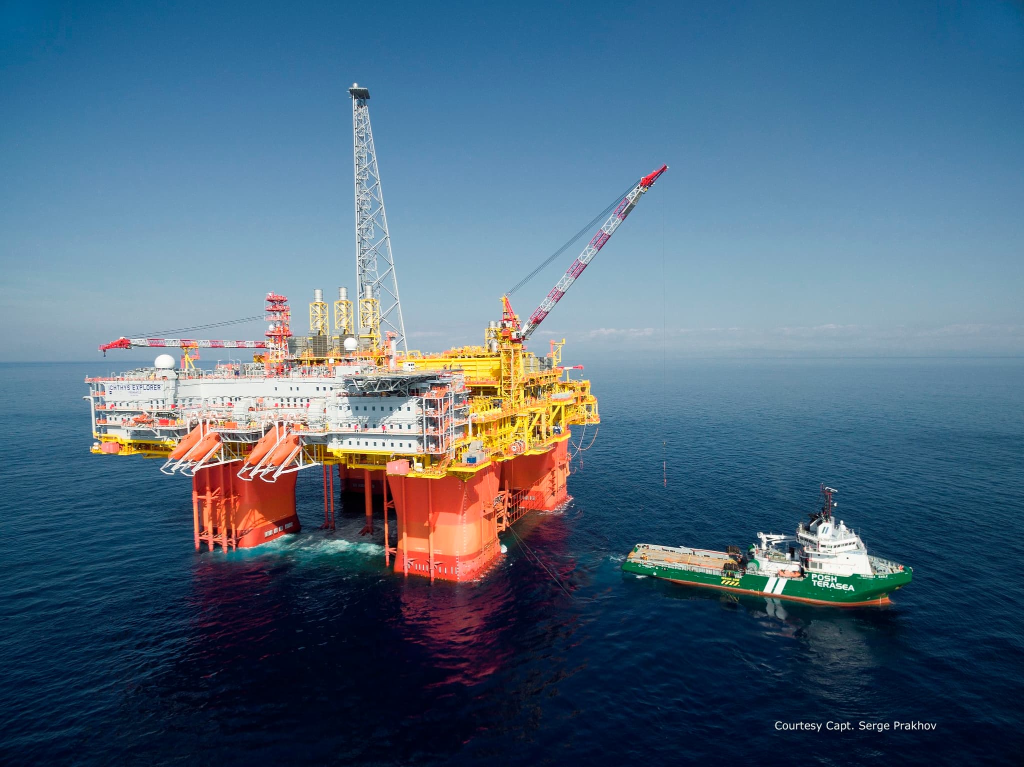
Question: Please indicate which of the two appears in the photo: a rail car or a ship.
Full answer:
The image shows a ship.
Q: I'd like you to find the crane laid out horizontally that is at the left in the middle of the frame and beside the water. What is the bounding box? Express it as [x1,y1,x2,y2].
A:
[95,309,285,367]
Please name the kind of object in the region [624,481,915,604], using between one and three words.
ship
